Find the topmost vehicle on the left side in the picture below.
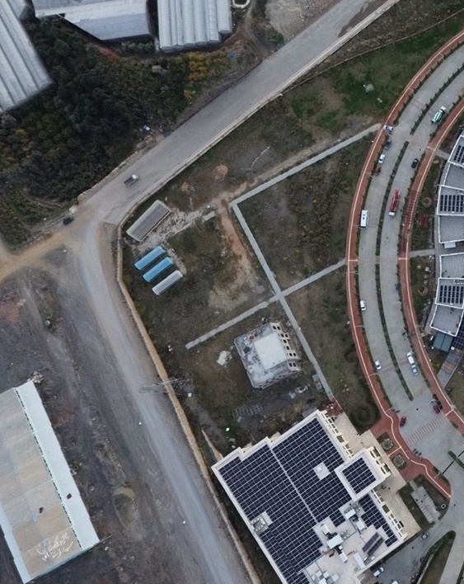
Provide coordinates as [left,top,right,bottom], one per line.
[124,174,141,186]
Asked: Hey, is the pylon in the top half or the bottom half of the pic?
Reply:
bottom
